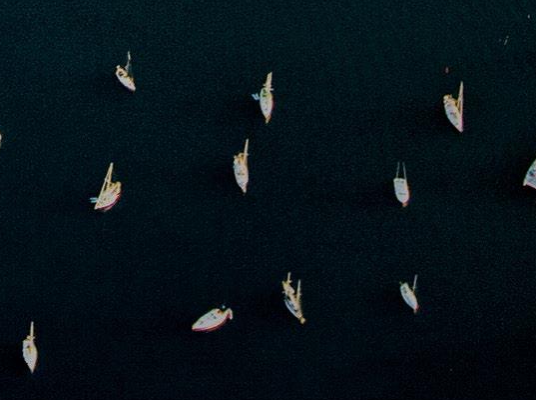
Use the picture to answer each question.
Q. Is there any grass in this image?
No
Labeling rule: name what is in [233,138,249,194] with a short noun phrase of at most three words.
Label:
boat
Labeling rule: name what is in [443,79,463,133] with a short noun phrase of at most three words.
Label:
boat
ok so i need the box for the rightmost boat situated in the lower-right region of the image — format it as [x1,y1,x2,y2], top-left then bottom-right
[400,274,417,312]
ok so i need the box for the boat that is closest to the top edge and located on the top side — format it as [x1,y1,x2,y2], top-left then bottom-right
[115,51,135,92]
